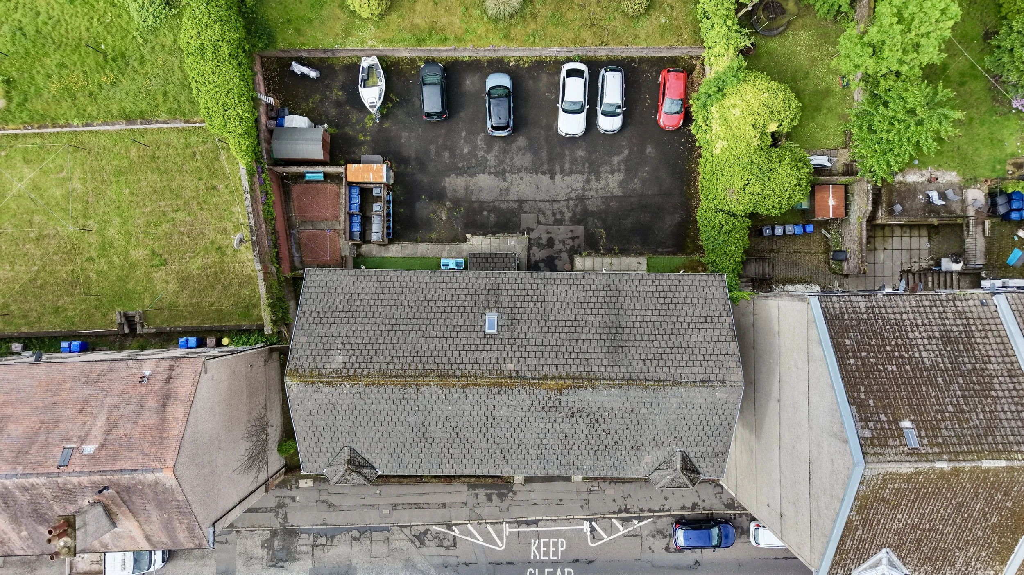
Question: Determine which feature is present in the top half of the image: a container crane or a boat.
boat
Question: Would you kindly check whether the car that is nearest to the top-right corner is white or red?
red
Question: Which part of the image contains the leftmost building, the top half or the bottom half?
bottom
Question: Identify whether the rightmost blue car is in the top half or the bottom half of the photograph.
bottom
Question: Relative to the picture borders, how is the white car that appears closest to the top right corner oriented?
up and down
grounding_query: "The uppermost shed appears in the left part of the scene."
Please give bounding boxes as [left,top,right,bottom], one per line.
[272,127,332,163]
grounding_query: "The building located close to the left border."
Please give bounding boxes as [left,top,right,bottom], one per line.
[0,345,282,562]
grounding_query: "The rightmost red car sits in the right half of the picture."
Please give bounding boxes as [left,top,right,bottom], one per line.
[656,67,688,133]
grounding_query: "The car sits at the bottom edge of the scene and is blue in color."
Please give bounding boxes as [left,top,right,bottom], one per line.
[671,516,736,553]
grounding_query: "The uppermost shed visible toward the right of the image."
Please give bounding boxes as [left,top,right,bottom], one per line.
[803,184,845,220]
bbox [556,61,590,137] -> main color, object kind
white car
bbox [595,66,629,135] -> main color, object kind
white car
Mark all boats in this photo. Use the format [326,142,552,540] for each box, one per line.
[358,52,384,111]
